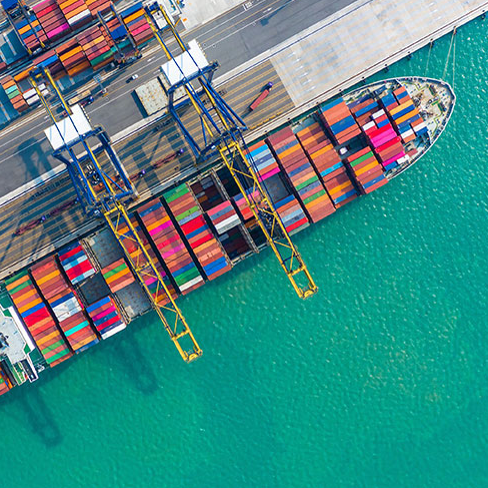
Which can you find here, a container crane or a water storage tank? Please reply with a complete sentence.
There is a container crane in the scene.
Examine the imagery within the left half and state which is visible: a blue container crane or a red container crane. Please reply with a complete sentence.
What appears within the left half is a blue container crane.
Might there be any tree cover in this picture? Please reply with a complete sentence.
No, there is no tree cover in the image.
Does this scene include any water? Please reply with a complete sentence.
Yes, some water is visible.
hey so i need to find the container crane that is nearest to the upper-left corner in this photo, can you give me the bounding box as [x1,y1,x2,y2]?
[0,0,52,63]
